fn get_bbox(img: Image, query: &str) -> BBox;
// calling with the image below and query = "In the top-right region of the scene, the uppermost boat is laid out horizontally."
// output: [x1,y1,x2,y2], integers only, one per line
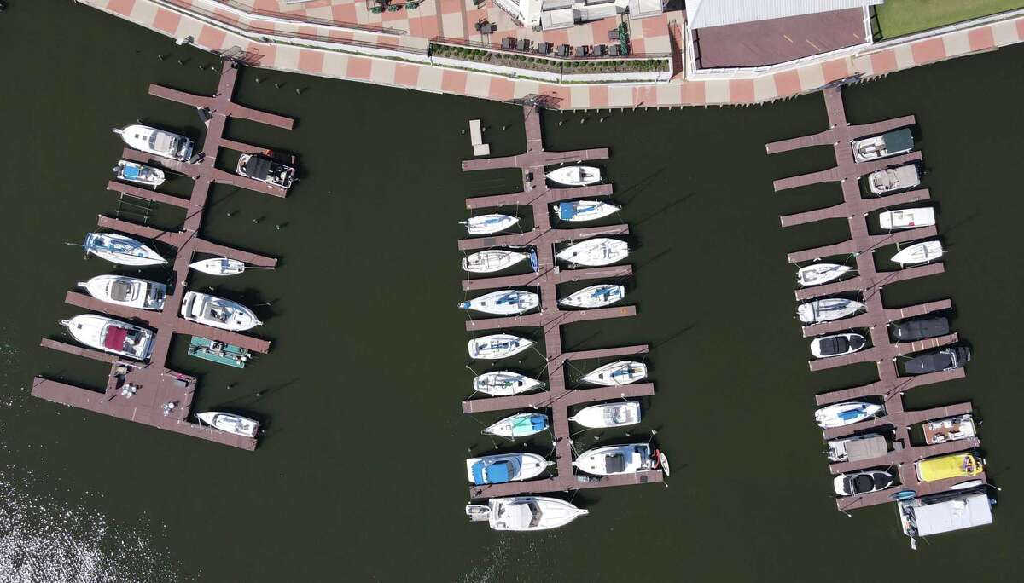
[851,127,915,163]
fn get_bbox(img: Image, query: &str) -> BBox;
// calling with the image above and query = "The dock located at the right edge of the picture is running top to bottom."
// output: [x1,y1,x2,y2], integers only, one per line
[764,86,987,512]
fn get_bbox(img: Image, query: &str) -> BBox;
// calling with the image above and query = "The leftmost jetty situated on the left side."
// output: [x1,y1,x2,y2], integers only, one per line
[32,63,297,451]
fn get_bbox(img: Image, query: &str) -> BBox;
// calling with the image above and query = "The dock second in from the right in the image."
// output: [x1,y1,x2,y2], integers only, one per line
[458,107,663,498]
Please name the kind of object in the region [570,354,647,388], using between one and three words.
boat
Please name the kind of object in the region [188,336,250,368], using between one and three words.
boat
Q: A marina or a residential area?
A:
marina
